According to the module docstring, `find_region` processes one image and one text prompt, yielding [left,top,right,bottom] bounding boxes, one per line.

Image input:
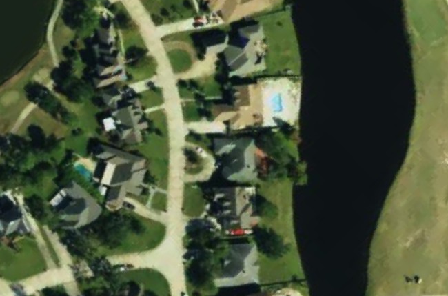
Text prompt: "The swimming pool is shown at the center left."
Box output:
[73,164,93,181]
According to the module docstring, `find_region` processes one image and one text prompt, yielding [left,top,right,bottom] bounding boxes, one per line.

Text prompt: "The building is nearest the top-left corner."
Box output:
[94,31,127,93]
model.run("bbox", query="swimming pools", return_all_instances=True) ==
[73,164,93,181]
[271,93,283,113]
